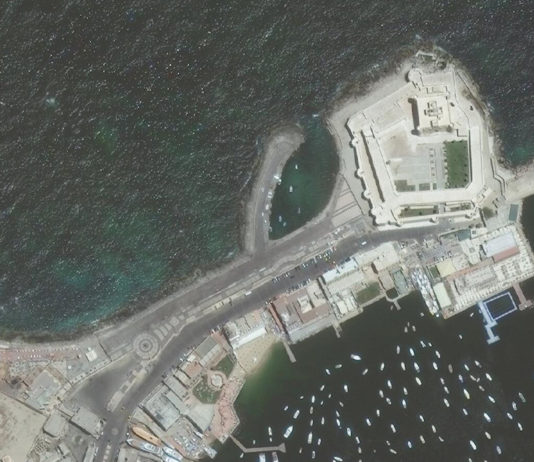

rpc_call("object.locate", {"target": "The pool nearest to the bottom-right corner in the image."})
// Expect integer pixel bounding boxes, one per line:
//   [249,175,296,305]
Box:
[483,291,518,321]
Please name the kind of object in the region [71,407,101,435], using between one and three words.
hangar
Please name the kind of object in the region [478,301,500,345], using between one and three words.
pier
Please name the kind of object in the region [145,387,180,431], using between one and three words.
shed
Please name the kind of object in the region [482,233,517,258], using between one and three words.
building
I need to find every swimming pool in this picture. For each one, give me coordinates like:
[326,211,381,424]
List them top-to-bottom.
[507,203,519,222]
[483,291,518,321]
